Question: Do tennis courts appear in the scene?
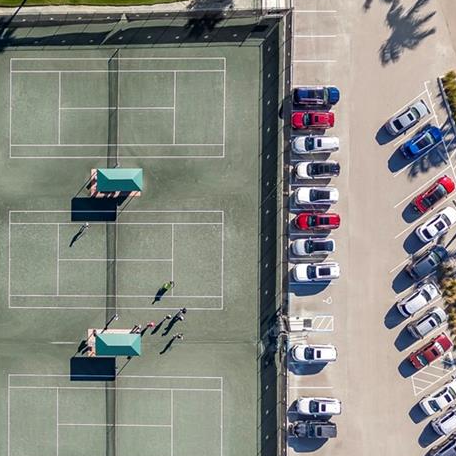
Yes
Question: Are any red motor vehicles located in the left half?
No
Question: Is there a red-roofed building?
No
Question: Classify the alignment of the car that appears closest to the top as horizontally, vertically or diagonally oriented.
horizontally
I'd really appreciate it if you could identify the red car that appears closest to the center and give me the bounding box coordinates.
[295,211,340,231]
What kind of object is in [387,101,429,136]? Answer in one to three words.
car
